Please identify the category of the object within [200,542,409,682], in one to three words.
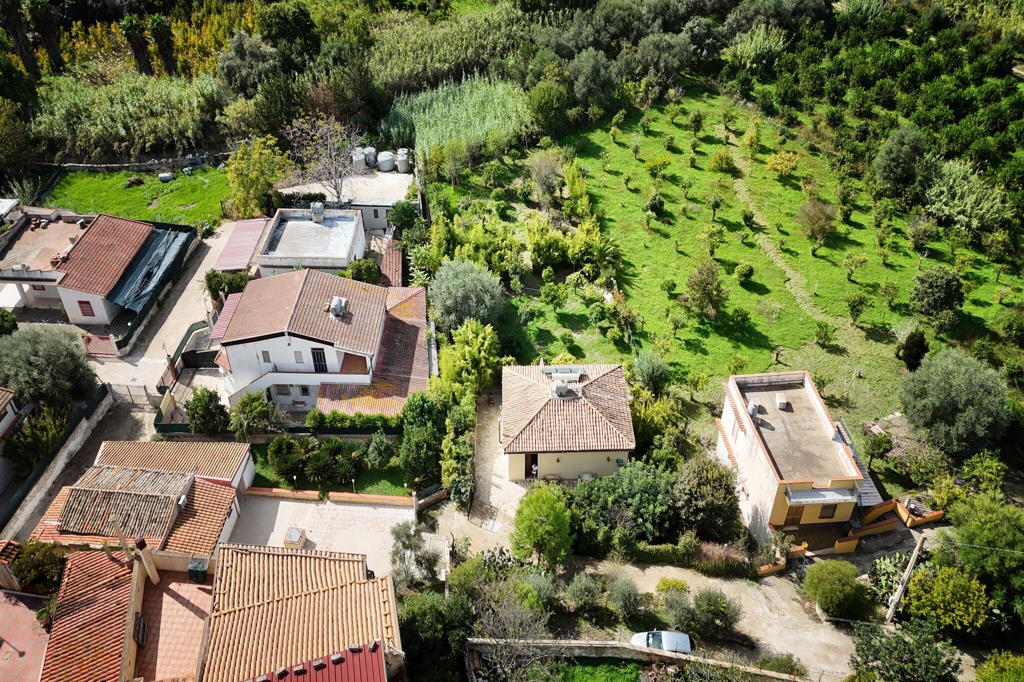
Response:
house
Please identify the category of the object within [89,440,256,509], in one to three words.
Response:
building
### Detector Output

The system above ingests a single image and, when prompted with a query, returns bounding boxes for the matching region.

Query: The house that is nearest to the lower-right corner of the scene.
[712,370,883,527]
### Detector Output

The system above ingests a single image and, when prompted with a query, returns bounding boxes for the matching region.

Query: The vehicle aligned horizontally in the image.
[635,632,693,654]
